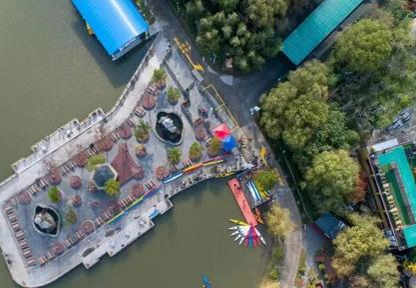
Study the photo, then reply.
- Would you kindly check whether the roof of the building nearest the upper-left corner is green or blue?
blue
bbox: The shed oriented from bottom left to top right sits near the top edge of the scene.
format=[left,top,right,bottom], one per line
[281,0,371,68]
